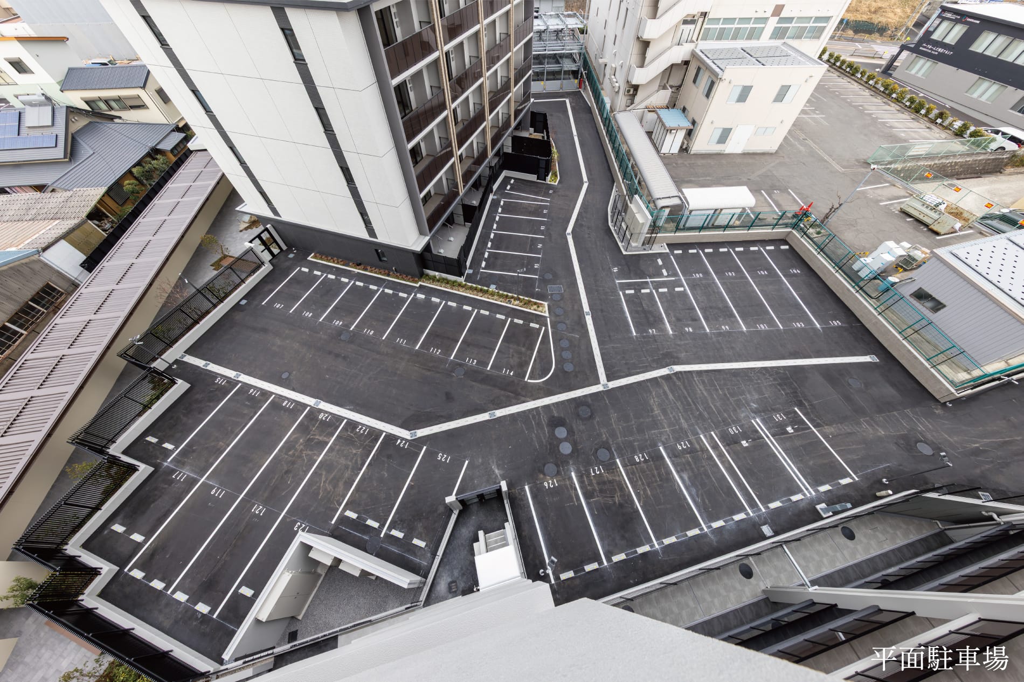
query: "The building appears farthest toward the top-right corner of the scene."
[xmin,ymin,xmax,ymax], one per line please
[882,0,1024,124]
